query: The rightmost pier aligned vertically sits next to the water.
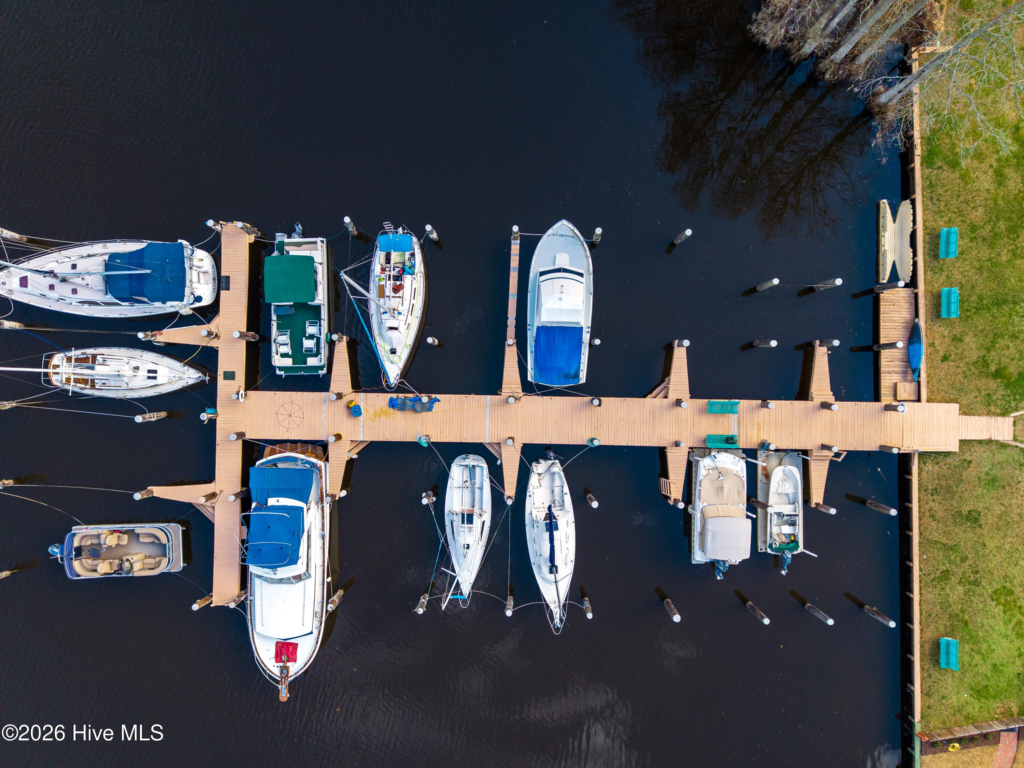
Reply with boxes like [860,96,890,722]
[877,289,918,401]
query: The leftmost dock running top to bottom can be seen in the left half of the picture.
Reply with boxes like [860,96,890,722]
[211,220,256,605]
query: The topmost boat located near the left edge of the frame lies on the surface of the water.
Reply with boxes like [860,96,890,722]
[0,230,219,318]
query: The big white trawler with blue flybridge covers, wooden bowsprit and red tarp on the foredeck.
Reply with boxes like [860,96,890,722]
[233,443,333,701]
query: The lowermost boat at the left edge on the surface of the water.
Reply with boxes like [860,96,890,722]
[44,522,187,578]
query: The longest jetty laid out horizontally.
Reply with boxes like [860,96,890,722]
[244,391,959,451]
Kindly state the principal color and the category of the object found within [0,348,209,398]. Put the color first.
white boat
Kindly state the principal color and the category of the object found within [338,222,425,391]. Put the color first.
white boat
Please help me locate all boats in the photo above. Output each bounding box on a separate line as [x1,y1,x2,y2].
[0,230,219,318]
[524,444,576,634]
[0,348,209,398]
[692,450,751,585]
[265,222,331,378]
[44,522,187,578]
[233,443,333,701]
[338,222,425,391]
[440,453,492,612]
[527,218,594,386]
[765,465,803,575]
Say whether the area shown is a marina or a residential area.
marina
